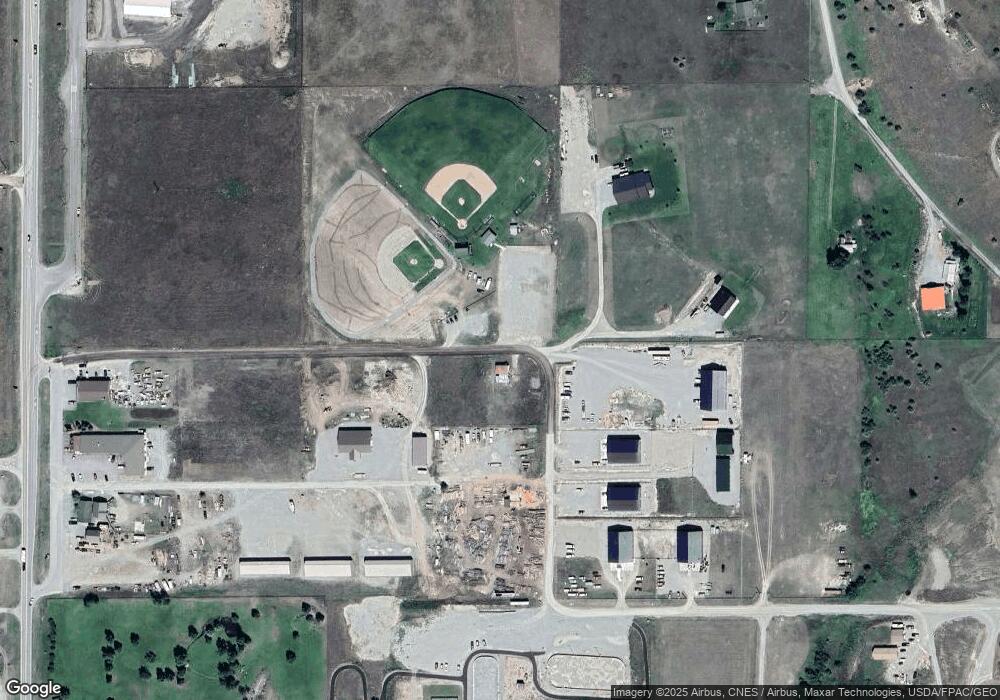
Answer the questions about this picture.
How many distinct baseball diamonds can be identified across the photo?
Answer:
2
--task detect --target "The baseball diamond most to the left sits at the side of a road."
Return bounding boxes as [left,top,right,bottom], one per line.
[310,171,457,335]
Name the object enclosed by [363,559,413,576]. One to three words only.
shed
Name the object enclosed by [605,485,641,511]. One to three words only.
building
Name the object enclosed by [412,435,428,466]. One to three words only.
shed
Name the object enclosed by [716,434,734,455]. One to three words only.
barn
